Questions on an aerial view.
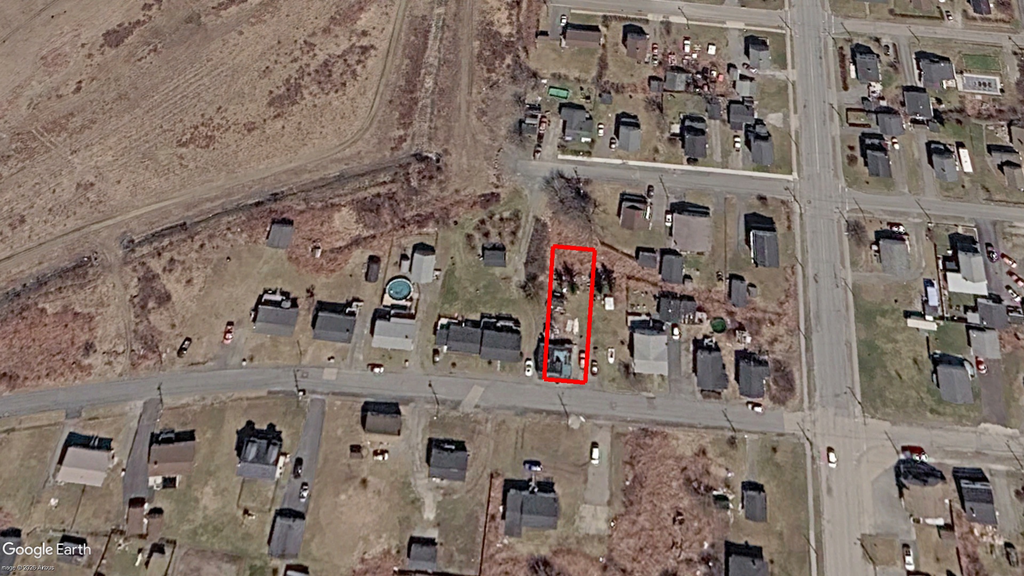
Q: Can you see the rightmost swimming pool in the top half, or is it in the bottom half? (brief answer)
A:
top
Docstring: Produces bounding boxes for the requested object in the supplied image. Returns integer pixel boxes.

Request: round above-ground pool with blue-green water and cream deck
[382,277,418,309]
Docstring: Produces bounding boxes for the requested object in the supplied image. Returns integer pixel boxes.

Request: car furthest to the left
[177,337,192,358]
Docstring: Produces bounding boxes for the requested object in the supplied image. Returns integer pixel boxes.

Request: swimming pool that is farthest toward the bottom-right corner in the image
[711,317,726,332]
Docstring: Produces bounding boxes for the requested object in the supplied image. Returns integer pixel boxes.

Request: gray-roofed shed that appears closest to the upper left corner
[266,221,294,249]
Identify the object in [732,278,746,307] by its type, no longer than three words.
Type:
building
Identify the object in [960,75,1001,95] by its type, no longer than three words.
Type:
swimming pool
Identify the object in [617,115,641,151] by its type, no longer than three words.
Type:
house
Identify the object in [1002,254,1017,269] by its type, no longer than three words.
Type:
car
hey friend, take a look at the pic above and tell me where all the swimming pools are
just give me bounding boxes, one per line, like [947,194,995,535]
[711,317,726,332]
[549,87,568,98]
[960,75,1001,95]
[382,277,418,309]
